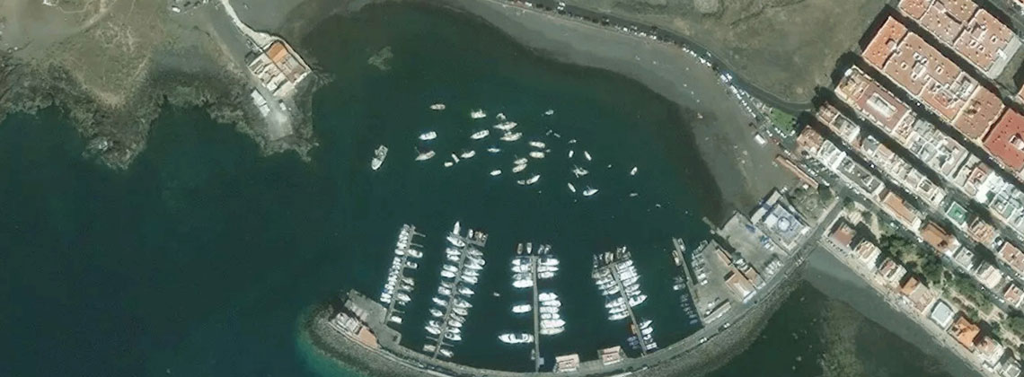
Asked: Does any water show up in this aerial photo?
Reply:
Yes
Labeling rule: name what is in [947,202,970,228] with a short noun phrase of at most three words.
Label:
house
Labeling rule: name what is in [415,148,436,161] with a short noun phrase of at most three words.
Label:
boat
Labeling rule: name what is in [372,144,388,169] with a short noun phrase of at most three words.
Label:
boat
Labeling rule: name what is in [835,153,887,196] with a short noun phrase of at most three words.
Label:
building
